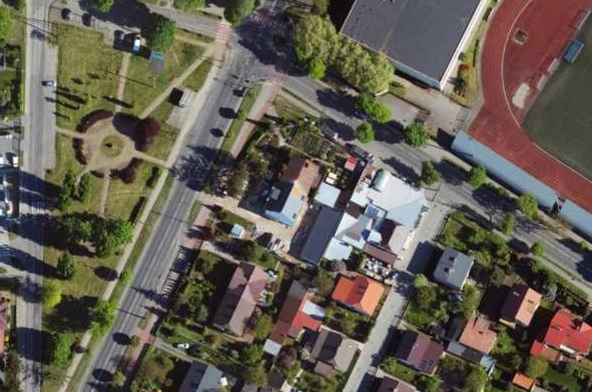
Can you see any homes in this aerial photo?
Yes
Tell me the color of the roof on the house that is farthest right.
red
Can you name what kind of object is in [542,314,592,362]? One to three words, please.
house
